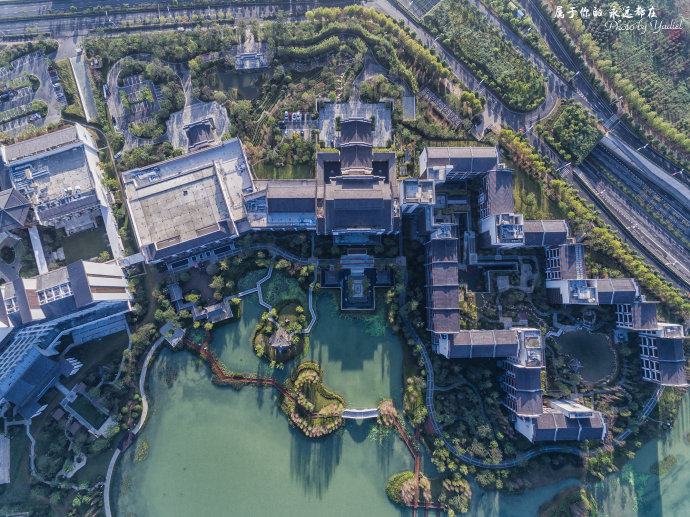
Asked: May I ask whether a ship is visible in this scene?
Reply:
No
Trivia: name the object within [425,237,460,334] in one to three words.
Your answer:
building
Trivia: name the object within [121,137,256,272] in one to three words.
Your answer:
building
